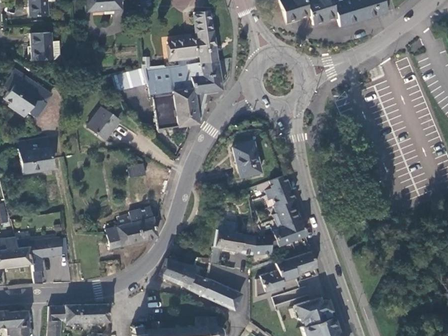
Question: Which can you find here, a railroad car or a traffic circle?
traffic circle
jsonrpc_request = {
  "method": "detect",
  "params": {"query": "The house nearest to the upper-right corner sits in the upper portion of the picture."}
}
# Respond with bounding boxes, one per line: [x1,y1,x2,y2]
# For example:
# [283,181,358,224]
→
[338,0,389,29]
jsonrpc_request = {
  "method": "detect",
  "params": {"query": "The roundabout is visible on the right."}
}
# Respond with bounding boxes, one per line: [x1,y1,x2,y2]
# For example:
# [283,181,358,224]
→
[235,33,325,118]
